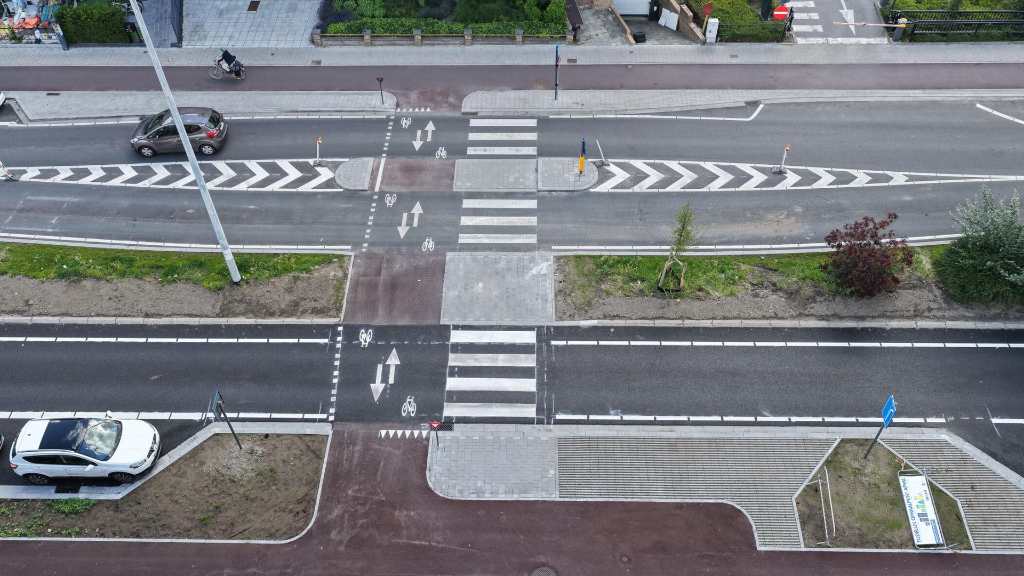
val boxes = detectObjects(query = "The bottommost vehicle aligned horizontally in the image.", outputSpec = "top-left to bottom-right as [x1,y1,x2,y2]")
[7,407,161,485]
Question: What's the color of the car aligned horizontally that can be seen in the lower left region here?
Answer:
white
